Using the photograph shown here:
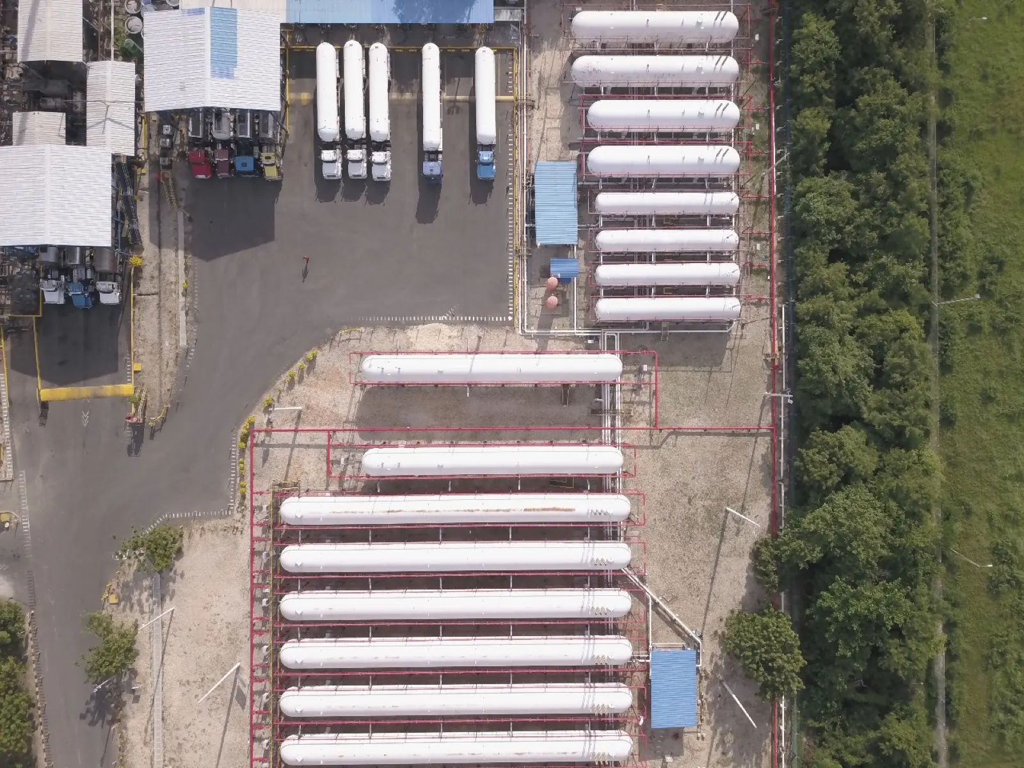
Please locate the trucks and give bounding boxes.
[35,247,66,305]
[255,102,282,181]
[185,100,213,179]
[62,247,93,310]
[318,42,343,180]
[230,109,257,178]
[368,43,394,182]
[419,42,444,192]
[85,176,121,305]
[344,39,369,180]
[209,69,236,180]
[473,45,498,181]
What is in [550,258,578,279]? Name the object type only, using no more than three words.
shed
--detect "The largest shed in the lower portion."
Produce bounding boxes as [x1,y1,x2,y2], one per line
[648,644,696,728]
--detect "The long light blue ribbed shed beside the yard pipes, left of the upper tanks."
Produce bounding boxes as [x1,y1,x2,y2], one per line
[535,161,577,248]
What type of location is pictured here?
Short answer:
industrial area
